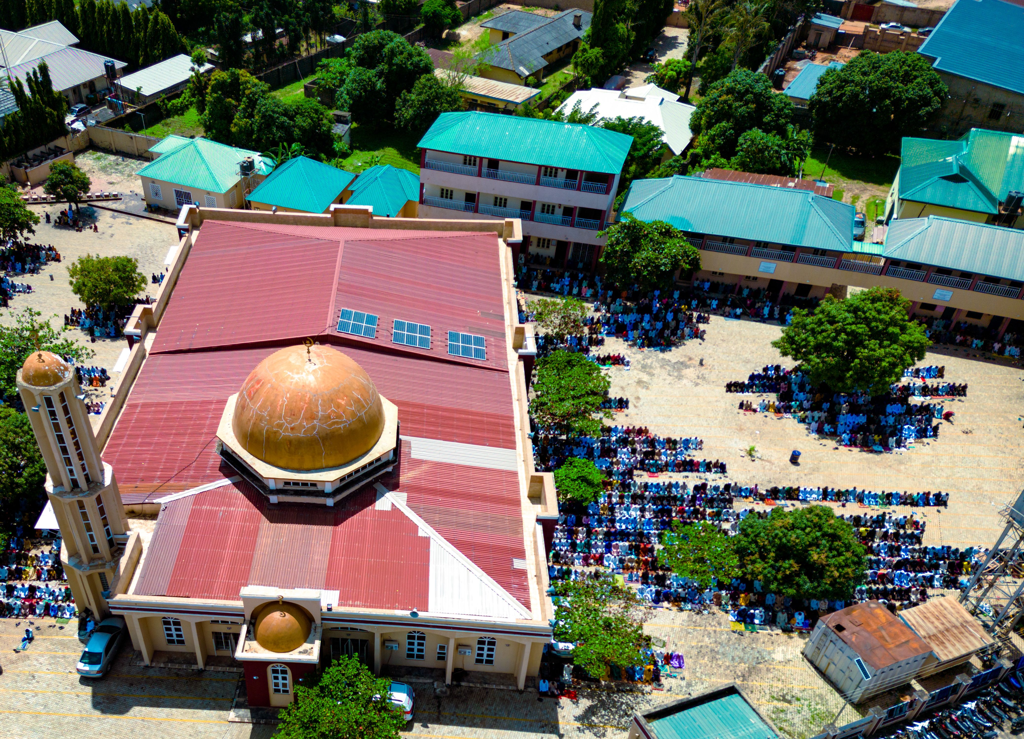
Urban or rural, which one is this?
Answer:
urban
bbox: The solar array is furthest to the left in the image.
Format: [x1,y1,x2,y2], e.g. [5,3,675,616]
[334,308,381,338]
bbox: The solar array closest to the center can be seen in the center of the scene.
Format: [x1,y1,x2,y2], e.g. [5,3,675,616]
[445,331,491,360]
